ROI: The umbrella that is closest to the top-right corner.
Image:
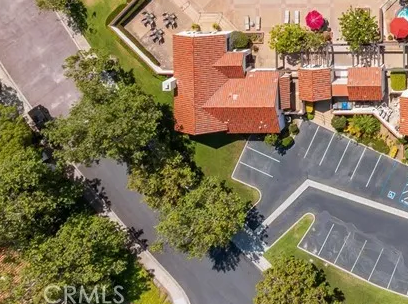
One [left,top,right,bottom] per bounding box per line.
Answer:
[391,18,408,37]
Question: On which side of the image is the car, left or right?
left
